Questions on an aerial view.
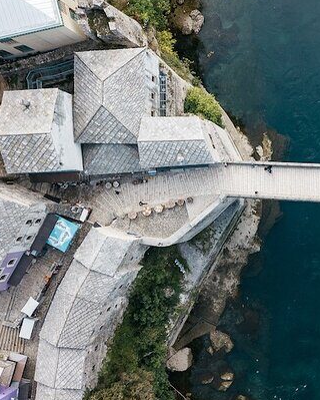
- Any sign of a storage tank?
No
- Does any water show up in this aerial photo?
Yes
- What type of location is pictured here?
residential area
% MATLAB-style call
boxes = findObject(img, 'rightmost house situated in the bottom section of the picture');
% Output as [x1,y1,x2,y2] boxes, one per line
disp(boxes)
[33,227,150,400]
